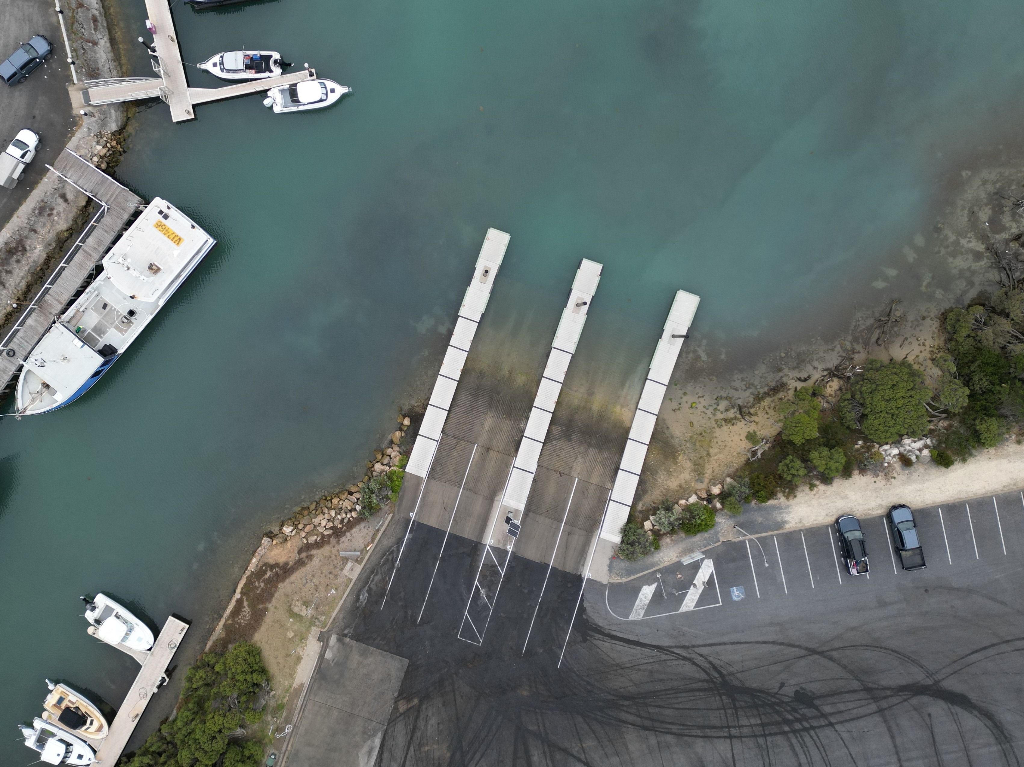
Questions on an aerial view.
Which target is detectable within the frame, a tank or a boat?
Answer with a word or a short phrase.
boat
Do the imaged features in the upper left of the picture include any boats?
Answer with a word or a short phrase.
Yes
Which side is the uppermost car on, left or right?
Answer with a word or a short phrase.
left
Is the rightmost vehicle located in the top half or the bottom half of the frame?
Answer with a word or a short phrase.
bottom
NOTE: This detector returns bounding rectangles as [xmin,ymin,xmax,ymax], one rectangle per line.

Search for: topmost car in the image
[0,30,58,88]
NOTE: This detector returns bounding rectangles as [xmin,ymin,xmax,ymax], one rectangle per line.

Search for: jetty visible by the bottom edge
[39,615,191,767]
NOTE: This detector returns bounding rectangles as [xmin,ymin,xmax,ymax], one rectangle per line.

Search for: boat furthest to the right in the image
[261,76,354,118]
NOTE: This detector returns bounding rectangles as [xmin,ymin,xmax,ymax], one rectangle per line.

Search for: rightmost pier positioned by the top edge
[145,0,317,123]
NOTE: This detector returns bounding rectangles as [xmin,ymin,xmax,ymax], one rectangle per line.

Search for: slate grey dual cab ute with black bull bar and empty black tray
[887,503,927,570]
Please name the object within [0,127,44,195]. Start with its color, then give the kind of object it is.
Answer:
white vehicle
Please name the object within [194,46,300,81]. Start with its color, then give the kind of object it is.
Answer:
white boat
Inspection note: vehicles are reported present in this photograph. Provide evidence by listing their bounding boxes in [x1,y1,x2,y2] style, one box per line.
[887,503,927,570]
[0,127,44,195]
[834,514,874,578]
[0,30,58,88]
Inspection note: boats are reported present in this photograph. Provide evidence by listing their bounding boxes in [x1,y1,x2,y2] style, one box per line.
[261,76,354,118]
[1,197,215,427]
[15,718,100,767]
[43,676,110,739]
[83,591,155,652]
[194,46,300,81]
